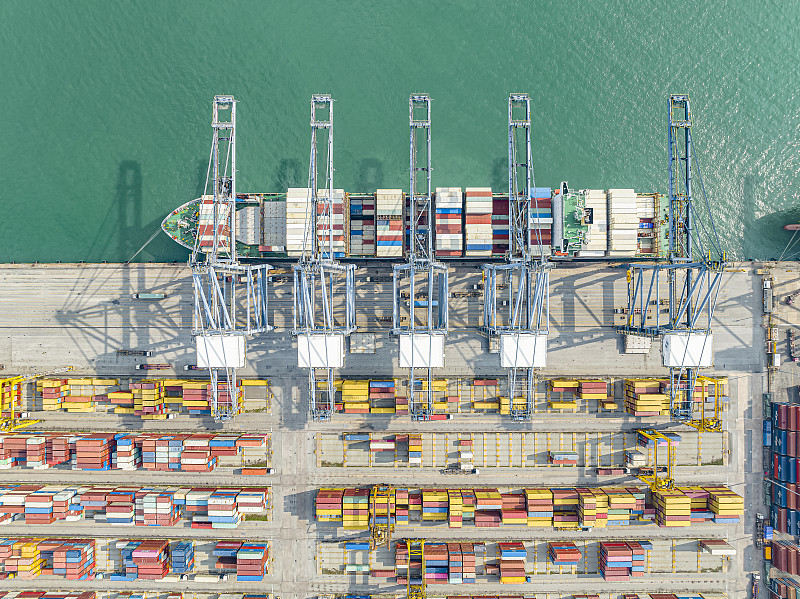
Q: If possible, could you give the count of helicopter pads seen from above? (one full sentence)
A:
Not a single helicopter pad can be seen.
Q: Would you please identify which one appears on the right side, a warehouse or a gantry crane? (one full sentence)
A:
You can see a gantry crane on the right side.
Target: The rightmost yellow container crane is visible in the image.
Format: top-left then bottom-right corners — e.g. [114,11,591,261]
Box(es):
[676,376,722,436]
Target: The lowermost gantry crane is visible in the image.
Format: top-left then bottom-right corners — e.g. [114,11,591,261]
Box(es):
[402,537,428,599]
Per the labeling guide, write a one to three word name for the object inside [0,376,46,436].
container crane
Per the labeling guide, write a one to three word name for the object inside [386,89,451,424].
container crane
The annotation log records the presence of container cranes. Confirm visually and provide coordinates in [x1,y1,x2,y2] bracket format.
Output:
[676,376,722,436]
[386,89,451,424]
[370,484,395,551]
[604,89,734,424]
[634,430,678,494]
[0,376,46,436]
[402,537,428,599]
[469,89,553,424]
[184,89,284,424]
[291,89,366,424]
